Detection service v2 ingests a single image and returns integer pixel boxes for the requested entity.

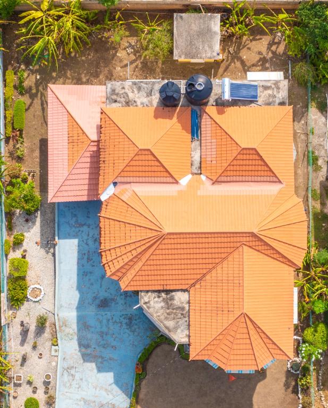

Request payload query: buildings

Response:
[48,81,308,373]
[174,12,219,65]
